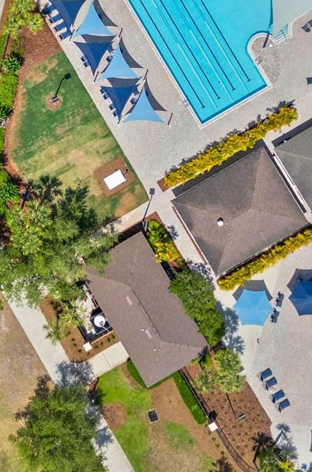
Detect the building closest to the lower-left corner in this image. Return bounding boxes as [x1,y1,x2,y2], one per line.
[86,231,210,389]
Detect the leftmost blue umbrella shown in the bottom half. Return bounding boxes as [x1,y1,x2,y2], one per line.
[232,289,272,325]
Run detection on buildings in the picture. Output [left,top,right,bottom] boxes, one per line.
[86,231,210,389]
[171,147,310,278]
[274,127,312,213]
